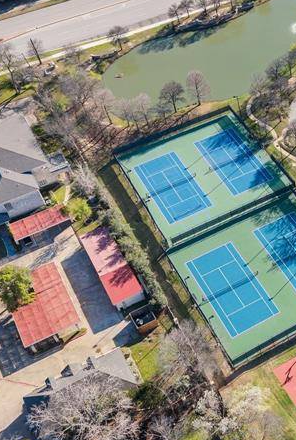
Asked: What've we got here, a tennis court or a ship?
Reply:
tennis court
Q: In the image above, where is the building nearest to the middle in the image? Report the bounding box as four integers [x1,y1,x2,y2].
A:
[81,226,147,316]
